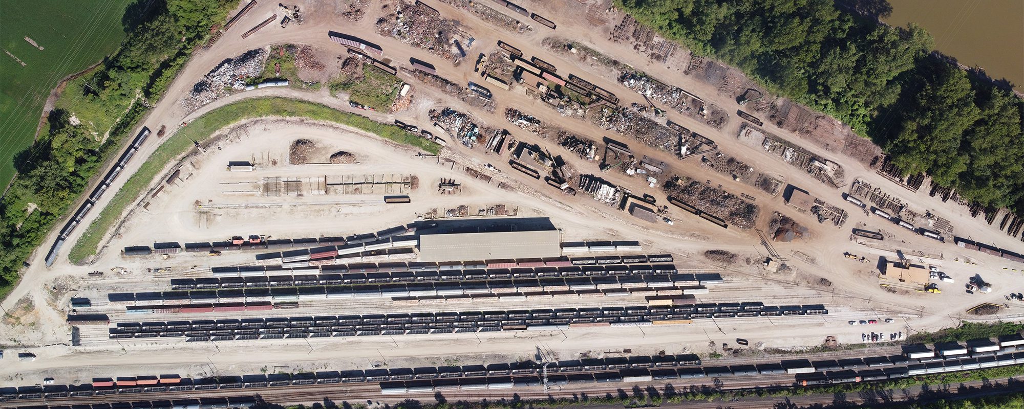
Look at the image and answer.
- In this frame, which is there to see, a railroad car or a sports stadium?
railroad car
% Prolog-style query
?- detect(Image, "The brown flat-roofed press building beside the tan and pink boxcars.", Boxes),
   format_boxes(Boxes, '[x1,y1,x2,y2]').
[520,70,549,93]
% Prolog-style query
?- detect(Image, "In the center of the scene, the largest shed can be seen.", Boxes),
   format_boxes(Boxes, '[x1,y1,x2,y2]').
[419,228,560,262]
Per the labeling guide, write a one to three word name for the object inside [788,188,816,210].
building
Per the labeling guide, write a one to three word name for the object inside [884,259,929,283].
building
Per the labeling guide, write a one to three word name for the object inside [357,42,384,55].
rail car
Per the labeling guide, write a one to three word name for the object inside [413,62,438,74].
rail car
